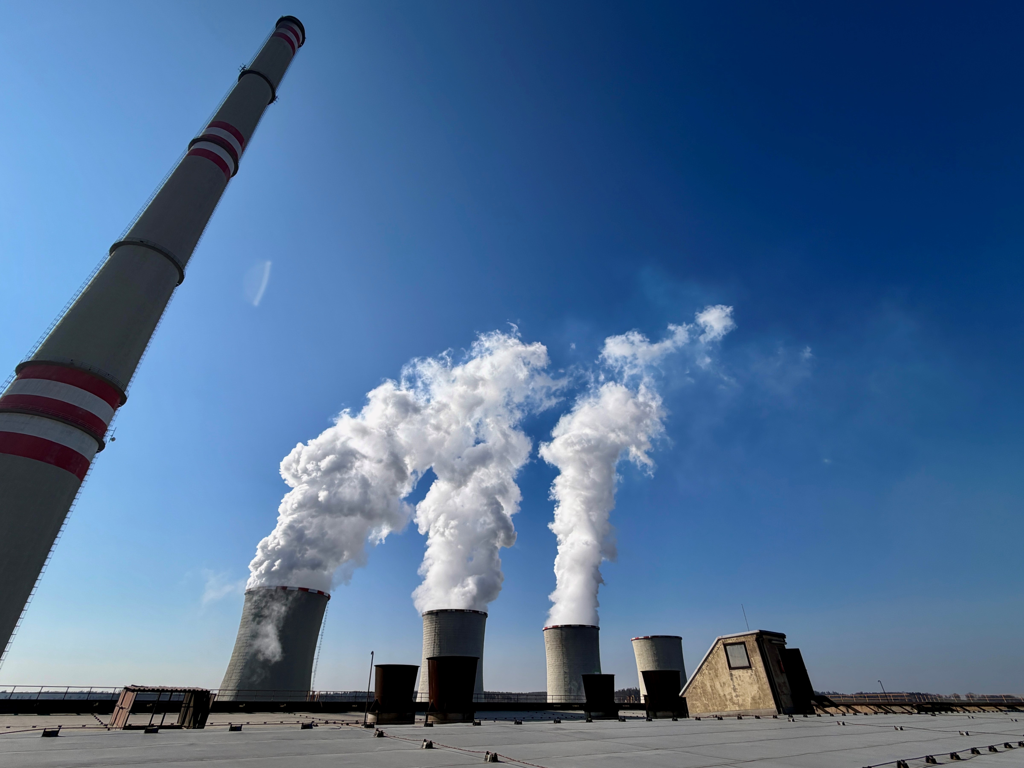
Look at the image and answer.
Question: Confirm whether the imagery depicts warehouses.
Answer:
No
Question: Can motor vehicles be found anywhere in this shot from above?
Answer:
No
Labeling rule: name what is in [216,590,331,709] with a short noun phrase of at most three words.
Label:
cooling tower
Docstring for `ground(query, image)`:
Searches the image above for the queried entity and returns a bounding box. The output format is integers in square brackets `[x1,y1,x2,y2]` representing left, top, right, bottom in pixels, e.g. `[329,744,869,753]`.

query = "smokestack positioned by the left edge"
[0,15,305,672]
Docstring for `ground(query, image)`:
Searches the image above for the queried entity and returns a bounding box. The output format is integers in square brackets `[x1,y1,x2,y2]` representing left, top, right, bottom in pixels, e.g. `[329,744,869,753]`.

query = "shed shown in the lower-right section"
[677,610,824,719]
